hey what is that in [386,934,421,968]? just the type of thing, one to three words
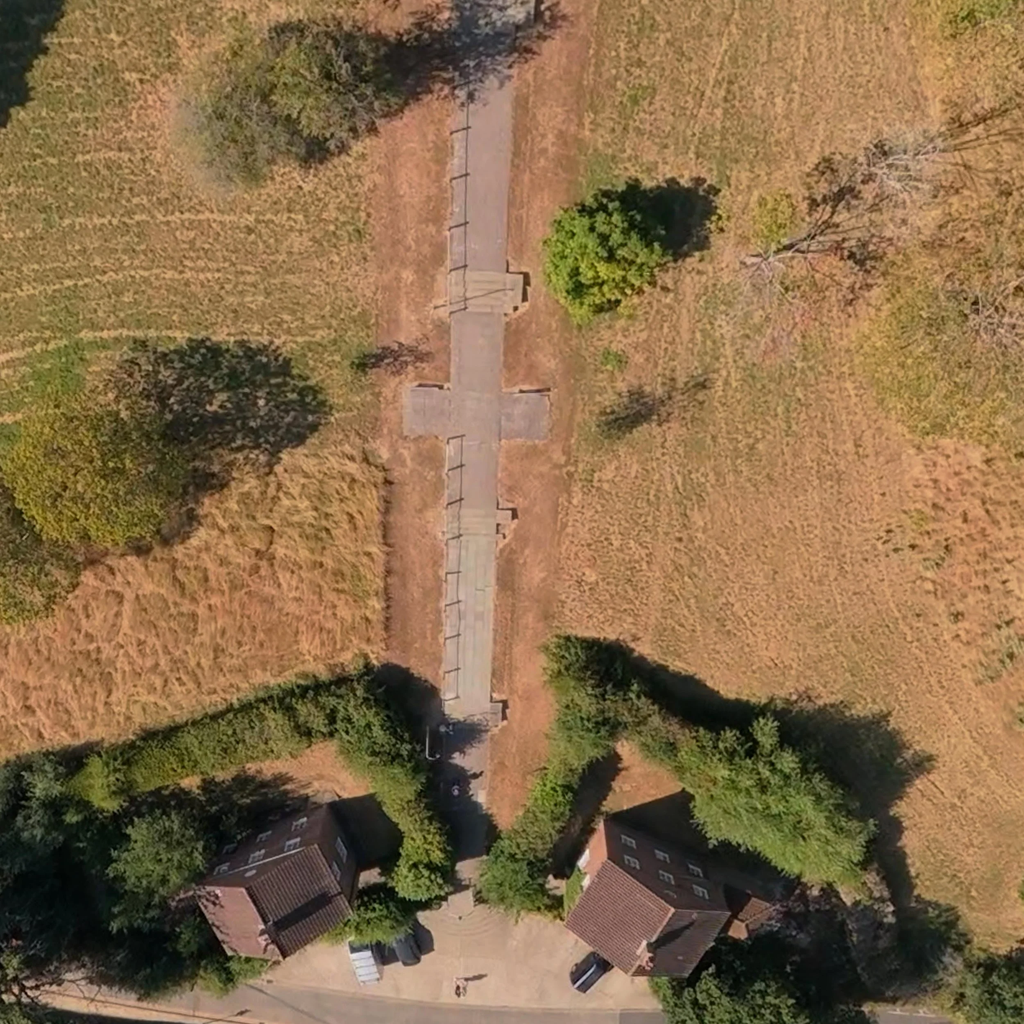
car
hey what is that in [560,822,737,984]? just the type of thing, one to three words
house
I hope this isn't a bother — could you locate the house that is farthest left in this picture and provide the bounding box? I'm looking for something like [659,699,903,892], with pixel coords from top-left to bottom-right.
[197,807,357,966]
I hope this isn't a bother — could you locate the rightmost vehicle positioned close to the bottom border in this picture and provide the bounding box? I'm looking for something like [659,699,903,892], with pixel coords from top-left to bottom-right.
[573,956,620,991]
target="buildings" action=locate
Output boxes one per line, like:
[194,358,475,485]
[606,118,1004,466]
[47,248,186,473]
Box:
[197,807,357,966]
[560,822,737,984]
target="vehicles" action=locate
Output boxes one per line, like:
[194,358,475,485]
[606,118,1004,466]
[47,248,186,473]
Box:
[347,941,383,983]
[573,956,620,991]
[386,934,421,968]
